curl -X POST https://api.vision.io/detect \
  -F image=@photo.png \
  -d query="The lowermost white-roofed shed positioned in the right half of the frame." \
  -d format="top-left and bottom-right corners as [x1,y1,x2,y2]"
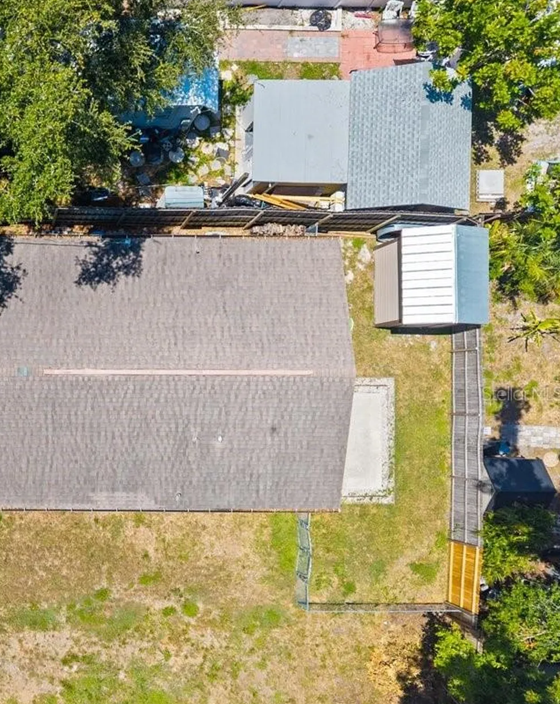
[375,223,489,327]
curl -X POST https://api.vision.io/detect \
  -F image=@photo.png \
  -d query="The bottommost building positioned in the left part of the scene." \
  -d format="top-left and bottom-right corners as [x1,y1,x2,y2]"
[0,233,356,515]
